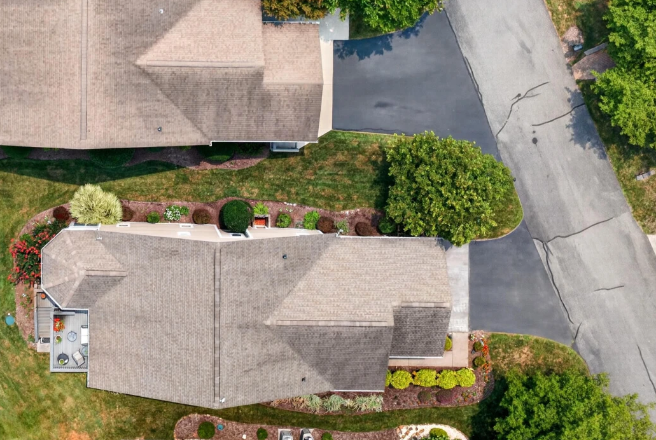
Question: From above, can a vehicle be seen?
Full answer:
No, I can't see a single vehicle in this photo.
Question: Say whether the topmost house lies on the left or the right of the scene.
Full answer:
The topmost house is on the left side of the image.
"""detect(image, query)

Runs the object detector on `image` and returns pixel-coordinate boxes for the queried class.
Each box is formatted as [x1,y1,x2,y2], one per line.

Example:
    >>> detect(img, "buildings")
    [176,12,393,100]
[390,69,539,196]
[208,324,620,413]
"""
[39,223,452,409]
[0,0,324,157]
